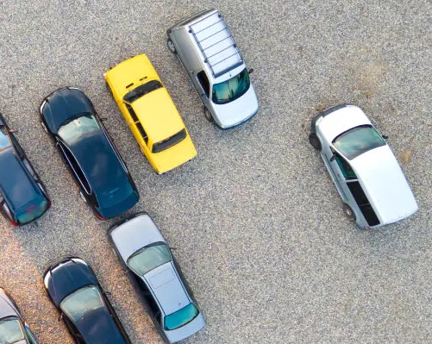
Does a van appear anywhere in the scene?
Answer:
Yes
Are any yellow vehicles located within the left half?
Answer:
Yes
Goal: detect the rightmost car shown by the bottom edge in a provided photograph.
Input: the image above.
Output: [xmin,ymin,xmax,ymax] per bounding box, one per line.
[109,215,207,342]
